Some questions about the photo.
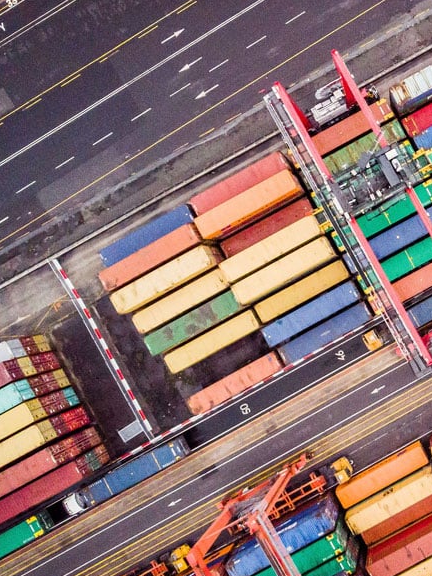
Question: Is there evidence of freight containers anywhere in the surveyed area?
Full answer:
Yes, there is a freight container in the image.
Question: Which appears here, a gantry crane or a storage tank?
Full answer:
It is a gantry crane that can be seen here.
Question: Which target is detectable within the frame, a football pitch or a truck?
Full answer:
The one in the frame is a truck.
